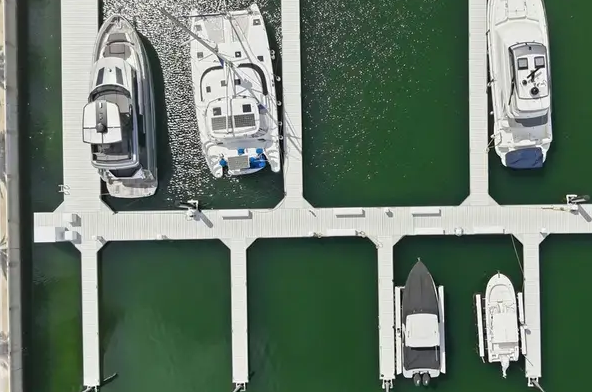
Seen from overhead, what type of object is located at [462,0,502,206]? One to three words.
pier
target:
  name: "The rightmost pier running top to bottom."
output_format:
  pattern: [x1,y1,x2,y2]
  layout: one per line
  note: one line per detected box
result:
[513,233,550,386]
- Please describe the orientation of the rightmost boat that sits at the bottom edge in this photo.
vertically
